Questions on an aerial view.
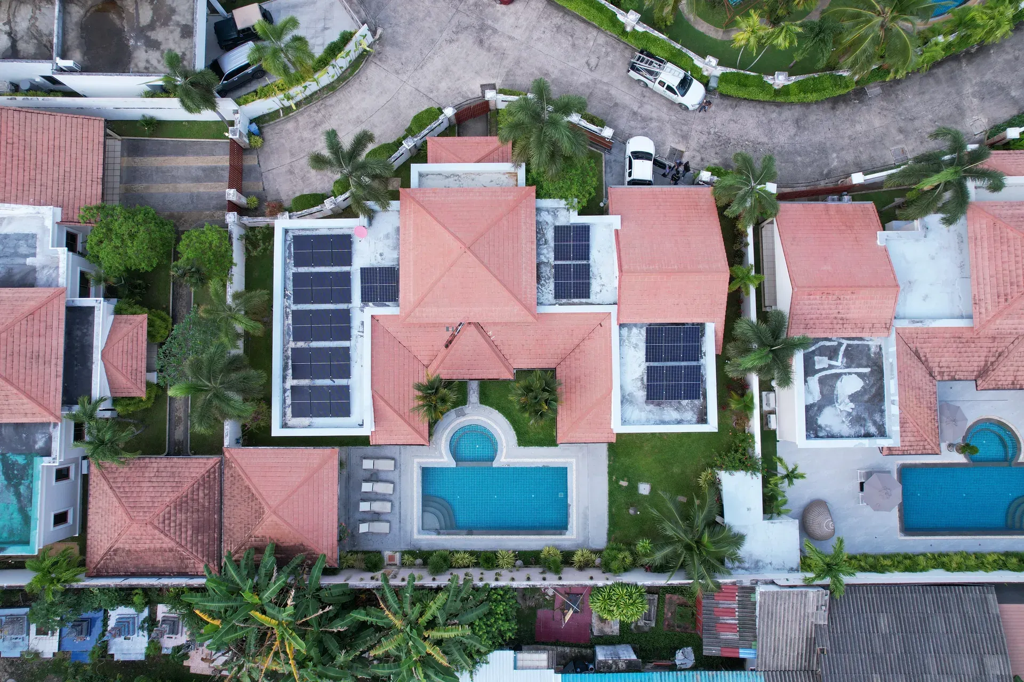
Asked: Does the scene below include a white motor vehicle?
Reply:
Yes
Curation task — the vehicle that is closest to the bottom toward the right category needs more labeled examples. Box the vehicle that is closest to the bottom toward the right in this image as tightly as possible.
[626,130,672,184]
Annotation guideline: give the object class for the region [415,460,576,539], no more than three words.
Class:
swimming pool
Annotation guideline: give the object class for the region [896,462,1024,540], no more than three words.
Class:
swimming pool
